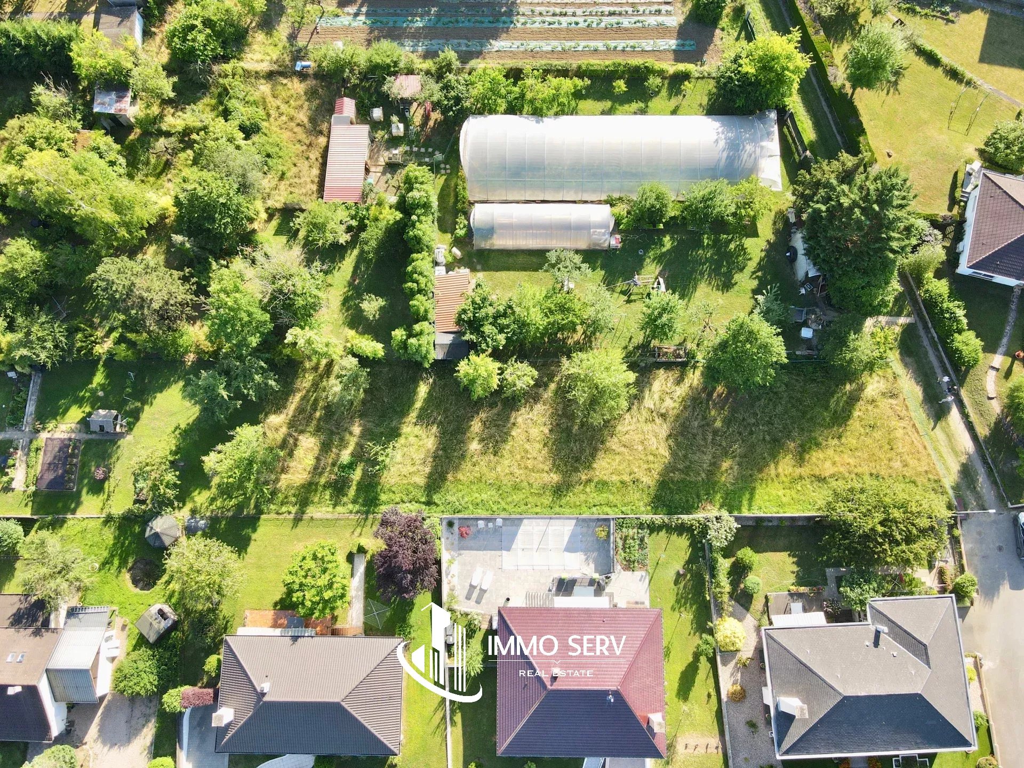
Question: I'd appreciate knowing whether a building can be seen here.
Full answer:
Yes, the photo shows a building.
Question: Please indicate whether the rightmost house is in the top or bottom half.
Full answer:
The top half of the photo is where the rightmost house is.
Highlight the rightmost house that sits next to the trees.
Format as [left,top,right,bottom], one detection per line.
[949,168,1024,297]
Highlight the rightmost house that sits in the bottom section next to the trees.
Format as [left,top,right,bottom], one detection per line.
[755,590,982,763]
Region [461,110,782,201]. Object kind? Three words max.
greenhouse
